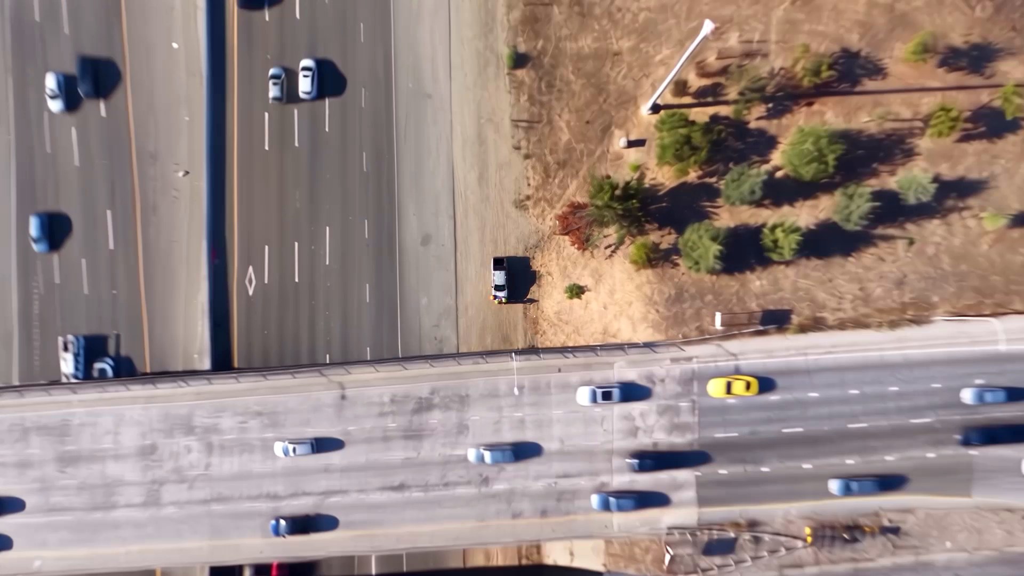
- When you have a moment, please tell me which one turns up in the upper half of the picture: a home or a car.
car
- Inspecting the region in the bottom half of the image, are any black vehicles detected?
Yes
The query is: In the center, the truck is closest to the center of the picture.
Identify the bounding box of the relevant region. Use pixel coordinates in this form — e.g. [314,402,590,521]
[490,253,511,302]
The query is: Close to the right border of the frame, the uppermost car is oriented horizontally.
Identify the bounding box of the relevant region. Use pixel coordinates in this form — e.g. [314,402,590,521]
[959,385,1010,408]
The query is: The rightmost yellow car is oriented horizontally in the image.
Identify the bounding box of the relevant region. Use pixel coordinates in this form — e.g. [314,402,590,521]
[707,374,758,399]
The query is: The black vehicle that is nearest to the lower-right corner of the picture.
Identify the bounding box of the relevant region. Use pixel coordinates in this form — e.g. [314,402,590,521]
[961,424,1015,449]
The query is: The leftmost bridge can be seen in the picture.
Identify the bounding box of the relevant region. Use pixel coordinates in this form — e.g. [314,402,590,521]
[0,339,697,574]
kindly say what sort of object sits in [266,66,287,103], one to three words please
car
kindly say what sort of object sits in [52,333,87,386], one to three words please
truck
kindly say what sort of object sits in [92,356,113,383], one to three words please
car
